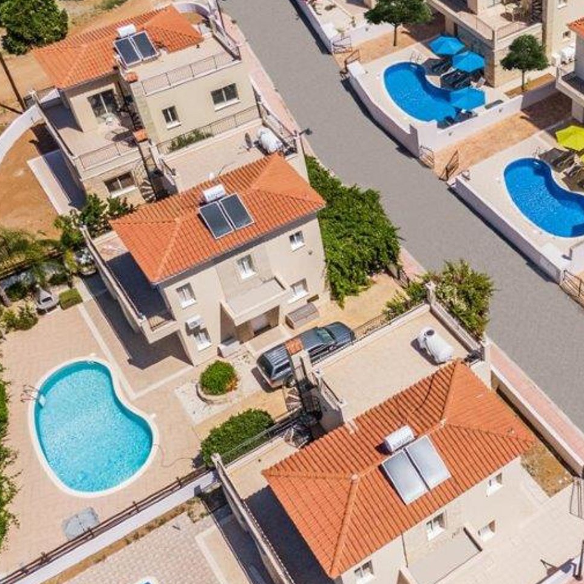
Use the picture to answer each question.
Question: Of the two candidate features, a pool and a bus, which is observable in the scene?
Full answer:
Looking from above, you can make out a pool.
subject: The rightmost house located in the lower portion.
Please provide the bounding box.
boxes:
[209,280,536,584]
